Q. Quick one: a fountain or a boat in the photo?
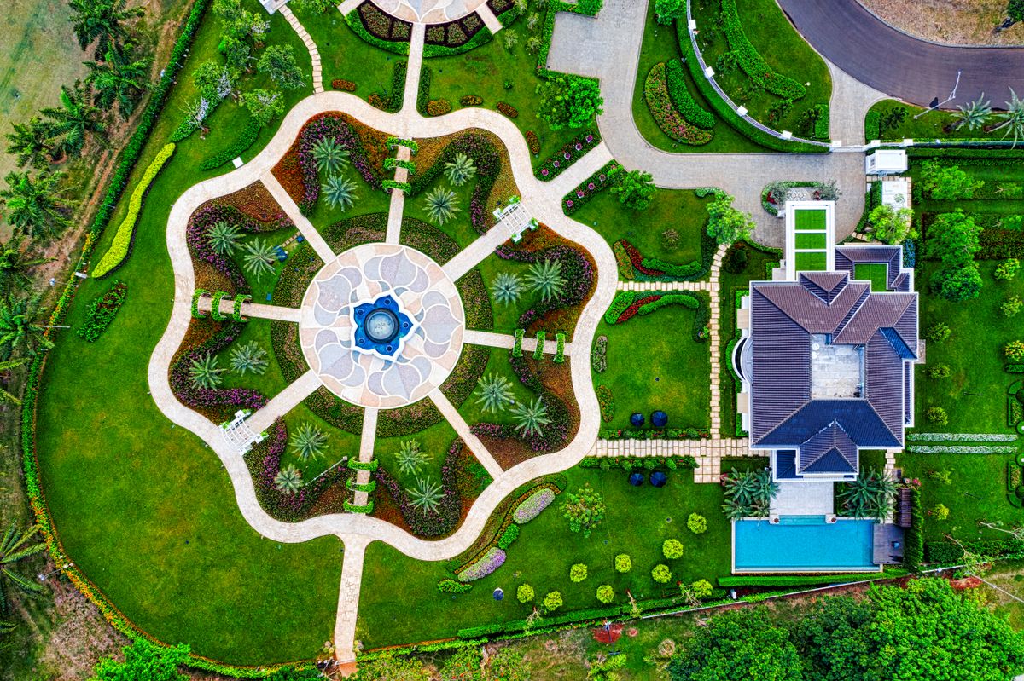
fountain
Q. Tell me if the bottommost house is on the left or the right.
right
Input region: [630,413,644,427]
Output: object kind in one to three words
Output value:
umbrella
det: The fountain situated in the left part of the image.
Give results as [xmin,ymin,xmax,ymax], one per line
[350,289,420,362]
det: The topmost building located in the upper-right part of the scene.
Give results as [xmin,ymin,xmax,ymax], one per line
[866,149,907,180]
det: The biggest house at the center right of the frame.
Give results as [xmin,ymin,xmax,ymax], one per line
[726,201,925,482]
